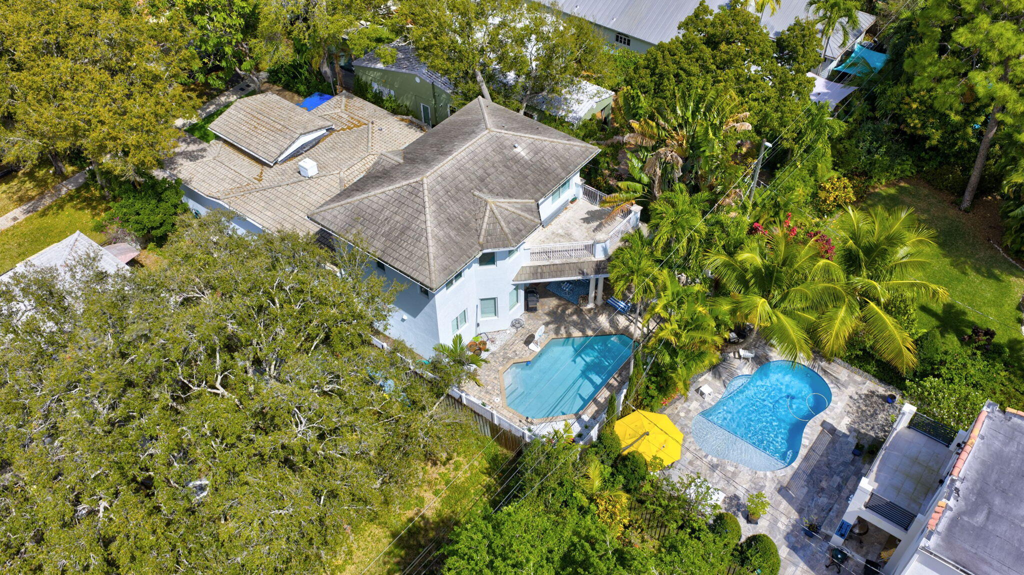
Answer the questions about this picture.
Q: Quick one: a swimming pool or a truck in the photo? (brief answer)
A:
swimming pool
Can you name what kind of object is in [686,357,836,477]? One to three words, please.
swimming pool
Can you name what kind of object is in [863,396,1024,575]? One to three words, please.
house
